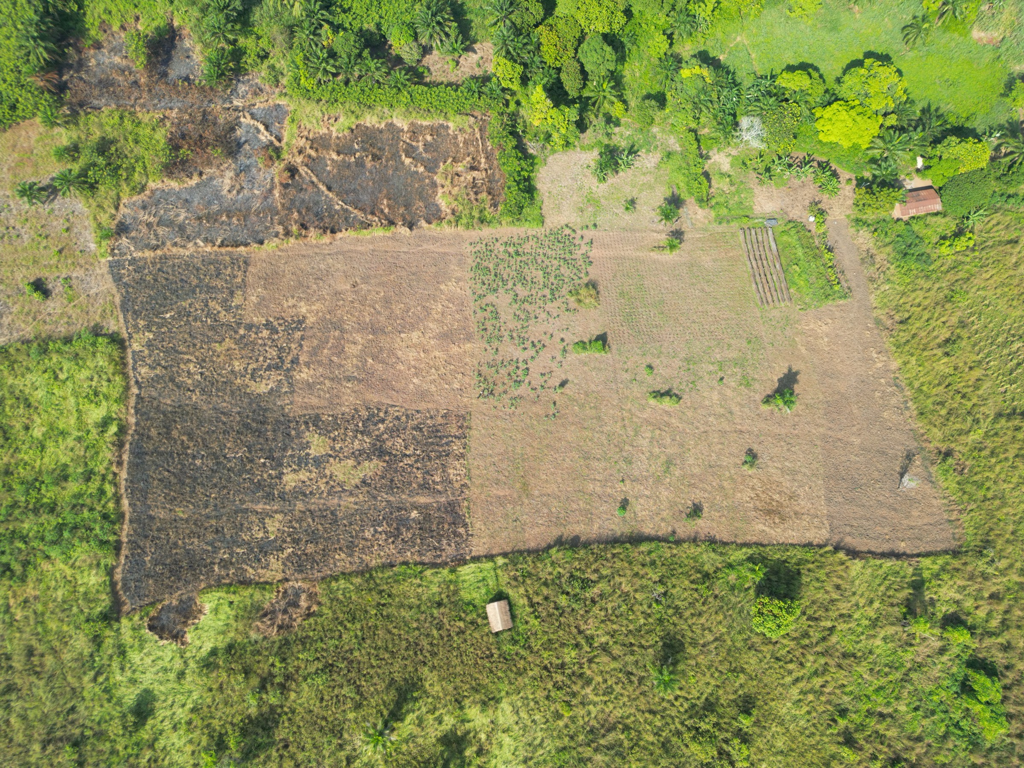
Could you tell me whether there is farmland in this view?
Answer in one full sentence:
Yes, the picture does contain farmland.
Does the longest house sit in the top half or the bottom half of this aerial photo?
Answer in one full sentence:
The longest house sits in the top half of the picture.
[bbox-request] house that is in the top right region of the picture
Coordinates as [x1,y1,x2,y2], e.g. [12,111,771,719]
[894,189,942,219]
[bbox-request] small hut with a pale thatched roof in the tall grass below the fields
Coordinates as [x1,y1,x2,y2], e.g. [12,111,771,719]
[484,599,516,631]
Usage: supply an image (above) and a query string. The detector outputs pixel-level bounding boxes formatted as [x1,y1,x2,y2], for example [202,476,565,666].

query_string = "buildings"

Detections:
[894,189,942,219]
[484,599,516,631]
